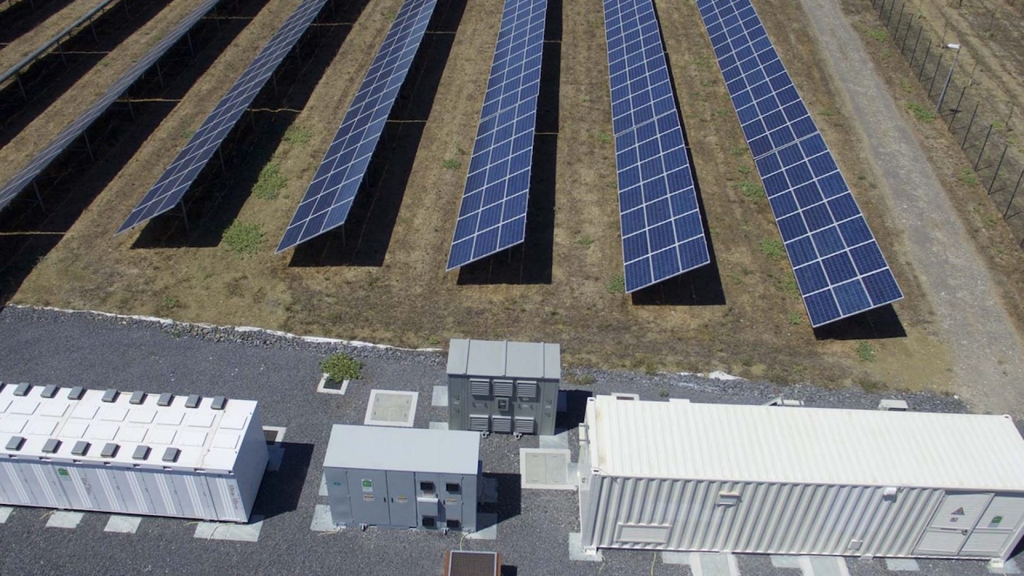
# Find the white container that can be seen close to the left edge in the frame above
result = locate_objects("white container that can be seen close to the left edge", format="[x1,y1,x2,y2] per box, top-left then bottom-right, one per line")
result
[0,384,270,523]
